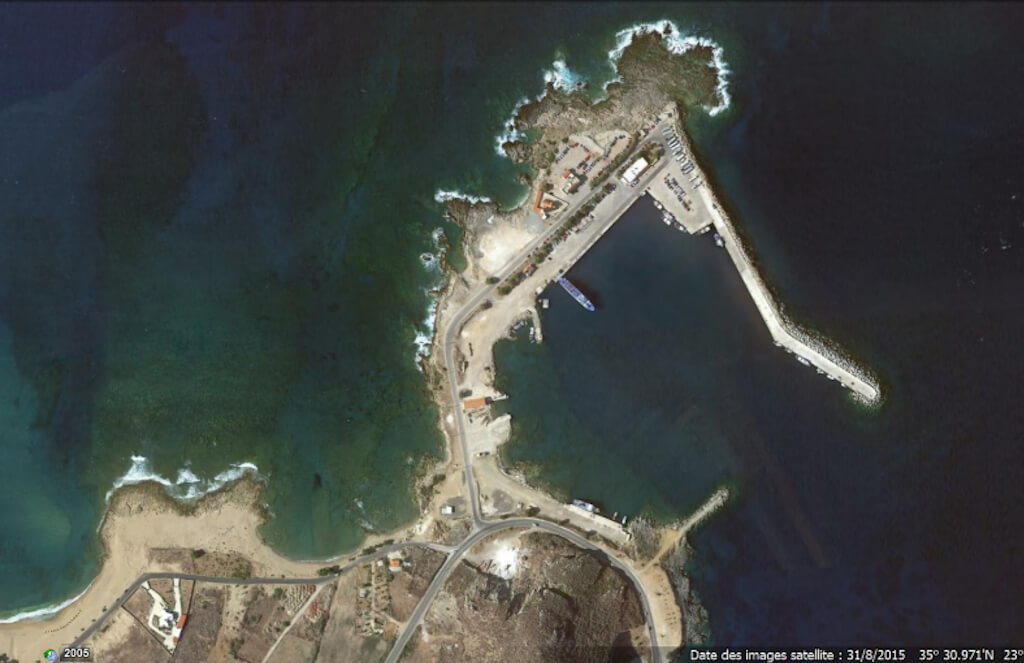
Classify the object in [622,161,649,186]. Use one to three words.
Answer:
building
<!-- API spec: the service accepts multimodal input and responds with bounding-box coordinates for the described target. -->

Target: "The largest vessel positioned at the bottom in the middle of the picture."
[572,498,596,510]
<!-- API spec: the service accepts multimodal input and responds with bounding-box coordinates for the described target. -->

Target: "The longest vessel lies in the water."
[557,276,594,309]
